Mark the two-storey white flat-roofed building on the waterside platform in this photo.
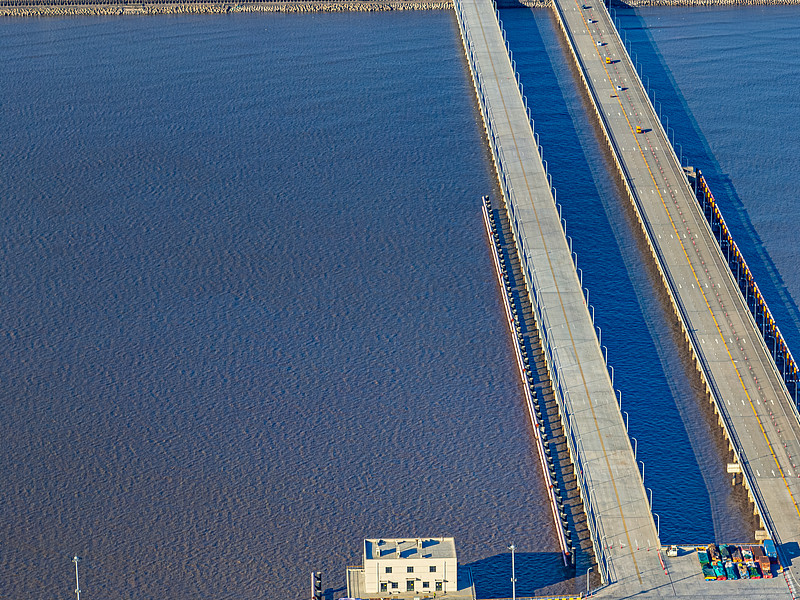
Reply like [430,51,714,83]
[364,537,459,594]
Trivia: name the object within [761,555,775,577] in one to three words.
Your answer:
vehicle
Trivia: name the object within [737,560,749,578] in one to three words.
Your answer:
vehicle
